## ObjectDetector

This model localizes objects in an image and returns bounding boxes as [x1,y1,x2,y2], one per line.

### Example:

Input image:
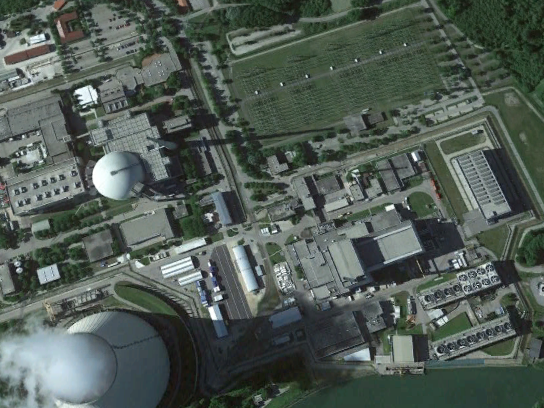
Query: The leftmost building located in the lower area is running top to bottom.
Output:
[0,264,16,295]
